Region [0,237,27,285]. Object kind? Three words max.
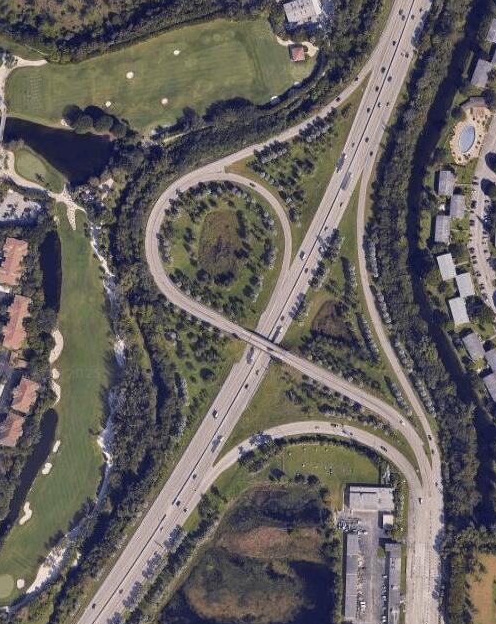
house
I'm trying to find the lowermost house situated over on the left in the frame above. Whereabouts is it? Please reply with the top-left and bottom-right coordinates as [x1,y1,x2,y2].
[1,414,23,446]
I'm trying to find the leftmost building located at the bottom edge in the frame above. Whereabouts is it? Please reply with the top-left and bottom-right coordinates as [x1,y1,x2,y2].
[345,544,358,618]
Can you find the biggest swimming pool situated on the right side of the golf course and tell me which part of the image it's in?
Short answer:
top right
